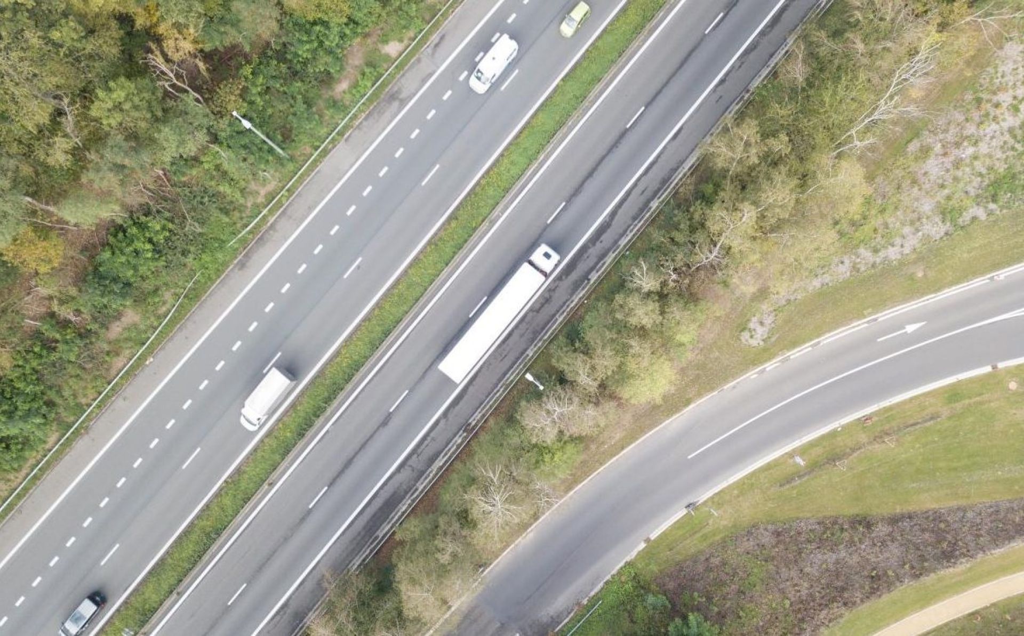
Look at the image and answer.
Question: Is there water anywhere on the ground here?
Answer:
No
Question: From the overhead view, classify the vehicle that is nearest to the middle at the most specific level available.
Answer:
truck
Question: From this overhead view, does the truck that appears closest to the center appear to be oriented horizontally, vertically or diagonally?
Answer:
diagonally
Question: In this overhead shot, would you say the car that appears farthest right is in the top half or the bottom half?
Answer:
top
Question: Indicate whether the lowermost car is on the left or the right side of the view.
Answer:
left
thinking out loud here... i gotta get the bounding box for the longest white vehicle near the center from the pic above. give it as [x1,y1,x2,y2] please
[438,243,561,383]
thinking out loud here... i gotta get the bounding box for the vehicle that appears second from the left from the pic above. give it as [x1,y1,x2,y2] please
[242,370,294,426]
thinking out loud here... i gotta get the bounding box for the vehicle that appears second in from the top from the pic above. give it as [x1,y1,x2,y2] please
[470,35,519,95]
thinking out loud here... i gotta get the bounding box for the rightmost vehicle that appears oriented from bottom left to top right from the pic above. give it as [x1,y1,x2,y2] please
[559,1,592,39]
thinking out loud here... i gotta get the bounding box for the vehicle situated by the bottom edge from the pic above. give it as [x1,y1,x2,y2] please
[64,589,108,636]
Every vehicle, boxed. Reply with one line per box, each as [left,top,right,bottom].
[64,589,108,636]
[470,35,519,95]
[438,243,561,383]
[559,1,592,39]
[242,370,294,426]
